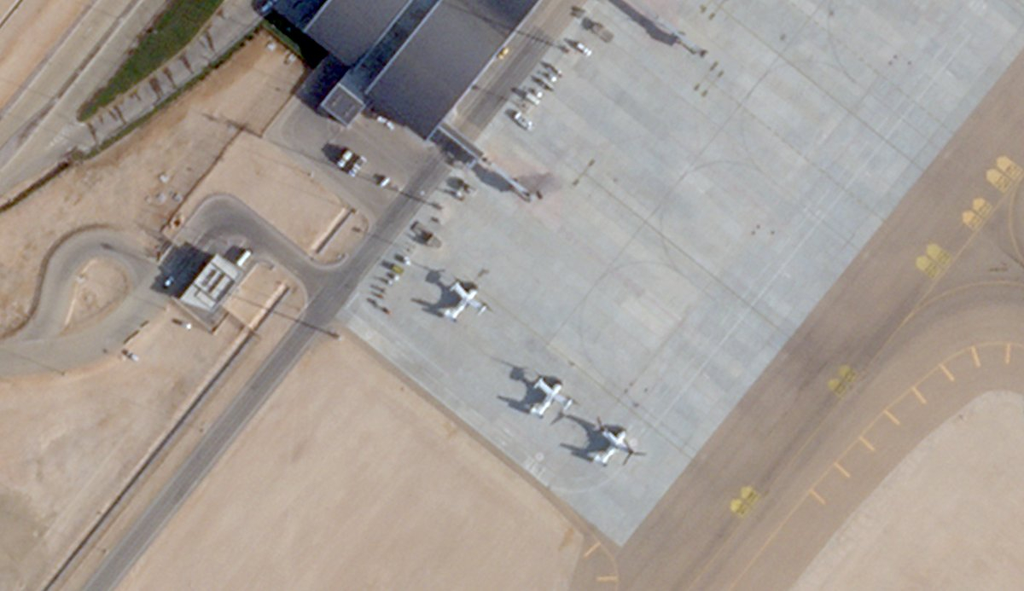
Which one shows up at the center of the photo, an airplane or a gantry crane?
airplane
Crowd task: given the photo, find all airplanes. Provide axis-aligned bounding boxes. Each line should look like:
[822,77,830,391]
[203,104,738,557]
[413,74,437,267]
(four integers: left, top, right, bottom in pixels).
[444,274,494,324]
[588,417,641,468]
[528,373,578,423]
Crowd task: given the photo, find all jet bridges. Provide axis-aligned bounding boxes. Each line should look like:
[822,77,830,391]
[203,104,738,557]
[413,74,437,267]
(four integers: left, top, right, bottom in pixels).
[632,0,710,54]
[477,153,545,204]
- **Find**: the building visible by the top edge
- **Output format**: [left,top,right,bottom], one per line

[304,0,540,141]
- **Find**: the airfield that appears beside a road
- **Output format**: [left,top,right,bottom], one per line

[335,0,1024,591]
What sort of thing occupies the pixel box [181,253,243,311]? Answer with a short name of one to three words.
building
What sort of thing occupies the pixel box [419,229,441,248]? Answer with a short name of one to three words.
work vehicle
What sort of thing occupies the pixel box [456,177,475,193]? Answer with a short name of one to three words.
work vehicle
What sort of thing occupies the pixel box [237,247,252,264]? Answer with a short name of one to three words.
vehicle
